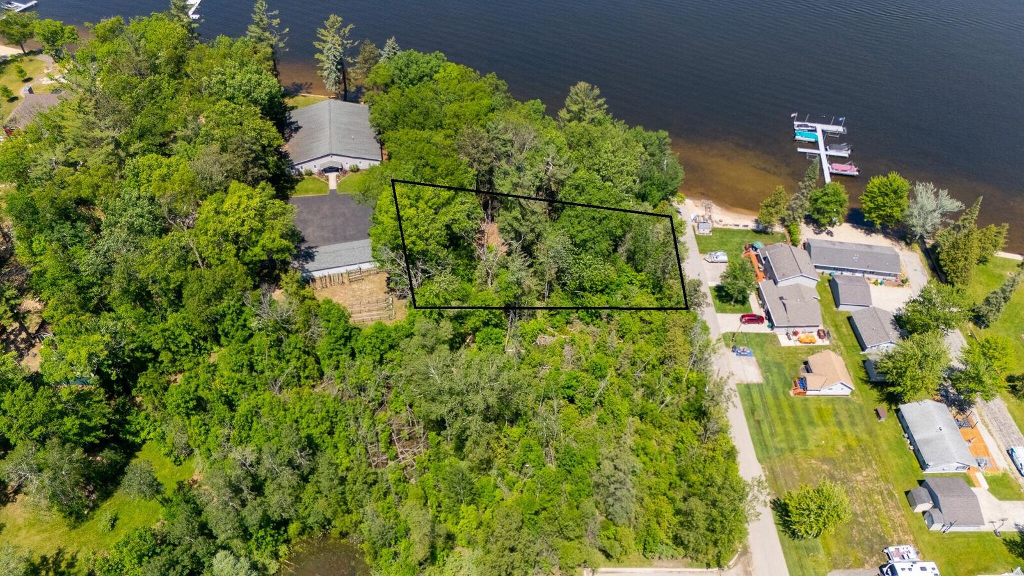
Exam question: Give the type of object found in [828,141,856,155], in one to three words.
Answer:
boat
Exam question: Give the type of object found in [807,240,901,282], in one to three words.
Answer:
house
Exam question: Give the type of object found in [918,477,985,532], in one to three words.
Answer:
building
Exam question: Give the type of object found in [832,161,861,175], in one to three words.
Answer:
boat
